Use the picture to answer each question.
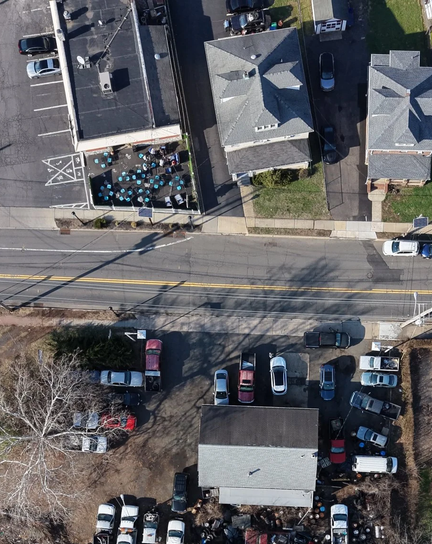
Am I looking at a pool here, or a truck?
truck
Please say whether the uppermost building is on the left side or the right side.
right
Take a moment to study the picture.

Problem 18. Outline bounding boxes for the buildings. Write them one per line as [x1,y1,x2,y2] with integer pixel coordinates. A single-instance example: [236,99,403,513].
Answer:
[52,0,184,162]
[198,405,318,508]
[310,0,345,41]
[204,27,314,186]
[365,50,432,191]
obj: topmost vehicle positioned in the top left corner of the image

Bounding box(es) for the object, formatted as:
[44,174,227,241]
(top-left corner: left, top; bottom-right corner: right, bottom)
[17,34,60,58]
